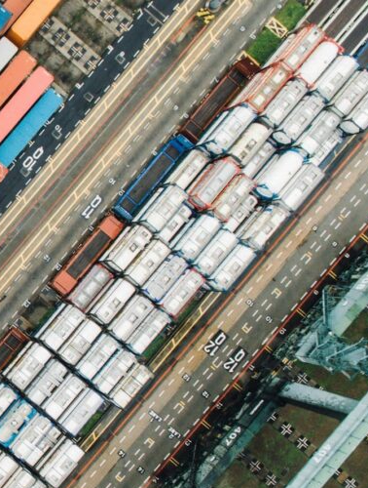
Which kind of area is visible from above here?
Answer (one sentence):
What you see here is an industrial area.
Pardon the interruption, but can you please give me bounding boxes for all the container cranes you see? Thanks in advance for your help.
[169,351,368,488]
[277,252,368,386]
